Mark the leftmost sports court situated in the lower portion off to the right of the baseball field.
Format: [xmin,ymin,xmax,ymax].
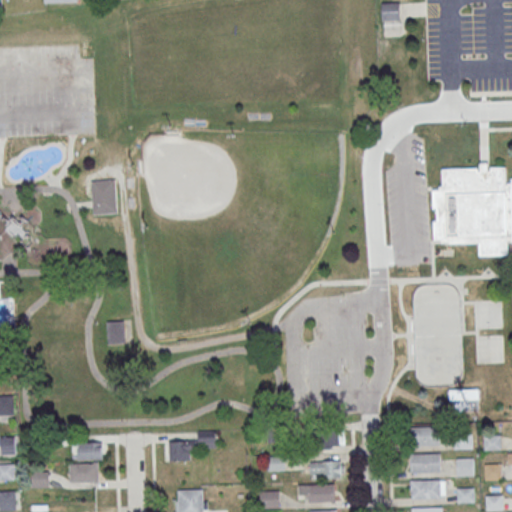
[414,285,464,386]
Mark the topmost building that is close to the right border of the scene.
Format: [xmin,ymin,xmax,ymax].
[432,161,512,258]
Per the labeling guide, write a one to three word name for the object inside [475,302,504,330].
basketball court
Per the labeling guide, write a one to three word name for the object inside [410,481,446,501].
house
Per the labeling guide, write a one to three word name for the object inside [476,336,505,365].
basketball court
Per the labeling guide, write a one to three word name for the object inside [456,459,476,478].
building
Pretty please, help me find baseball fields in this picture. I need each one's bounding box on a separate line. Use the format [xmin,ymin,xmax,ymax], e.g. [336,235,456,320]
[140,132,346,340]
